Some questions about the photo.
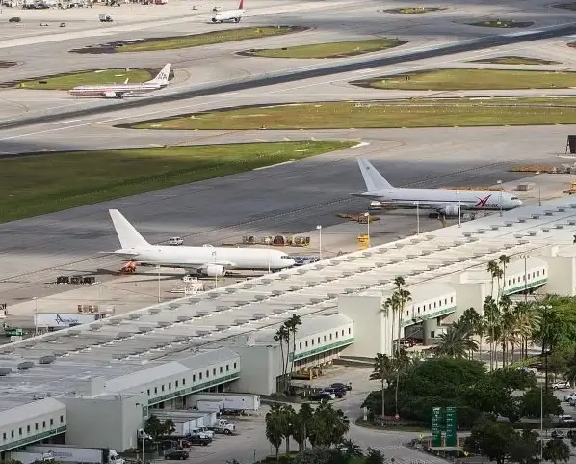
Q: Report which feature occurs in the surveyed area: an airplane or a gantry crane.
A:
airplane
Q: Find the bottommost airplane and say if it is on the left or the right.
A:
left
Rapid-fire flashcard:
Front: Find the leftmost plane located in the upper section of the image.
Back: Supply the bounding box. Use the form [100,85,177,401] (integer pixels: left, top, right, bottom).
[71,70,169,100]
